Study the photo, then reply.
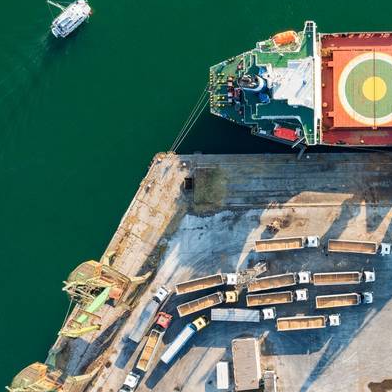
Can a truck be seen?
Yes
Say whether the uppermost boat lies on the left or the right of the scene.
left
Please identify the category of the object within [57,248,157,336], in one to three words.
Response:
crane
